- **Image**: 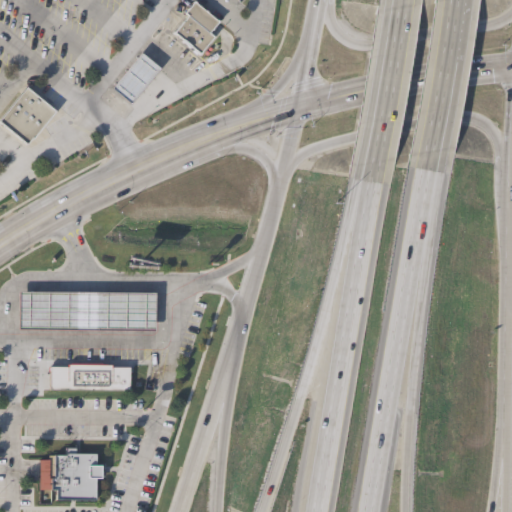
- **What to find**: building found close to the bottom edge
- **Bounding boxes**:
[41,448,104,504]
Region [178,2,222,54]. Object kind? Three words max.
building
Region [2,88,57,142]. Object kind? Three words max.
building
